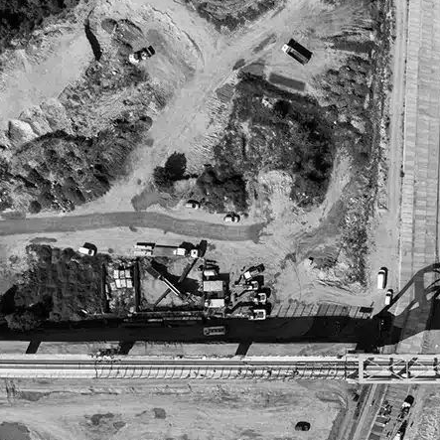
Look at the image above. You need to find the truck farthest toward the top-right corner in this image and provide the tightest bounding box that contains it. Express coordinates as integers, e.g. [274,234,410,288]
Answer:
[282,41,314,68]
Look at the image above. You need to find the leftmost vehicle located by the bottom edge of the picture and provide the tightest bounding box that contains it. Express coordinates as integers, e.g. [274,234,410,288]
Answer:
[294,419,312,434]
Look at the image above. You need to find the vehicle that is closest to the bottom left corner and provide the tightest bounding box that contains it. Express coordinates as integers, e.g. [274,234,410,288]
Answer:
[78,241,95,257]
